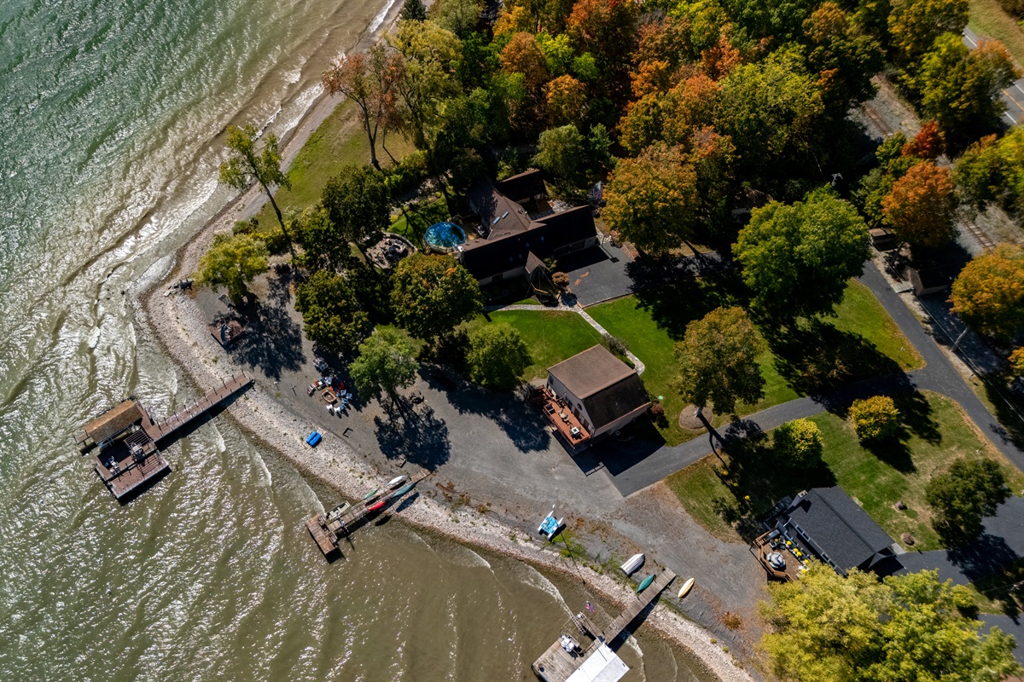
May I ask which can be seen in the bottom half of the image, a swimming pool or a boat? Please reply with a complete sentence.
The one visible in the bottom half of the image is a boat.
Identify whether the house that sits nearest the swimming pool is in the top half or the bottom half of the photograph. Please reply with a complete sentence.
The top half of the photo is where the house that sits nearest the swimming pool is.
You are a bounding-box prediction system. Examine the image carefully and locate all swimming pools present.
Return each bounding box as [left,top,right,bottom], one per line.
[419,219,466,256]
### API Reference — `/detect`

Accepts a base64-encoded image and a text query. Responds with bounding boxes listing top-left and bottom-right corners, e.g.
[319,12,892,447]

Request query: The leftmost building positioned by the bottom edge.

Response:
[566,643,629,682]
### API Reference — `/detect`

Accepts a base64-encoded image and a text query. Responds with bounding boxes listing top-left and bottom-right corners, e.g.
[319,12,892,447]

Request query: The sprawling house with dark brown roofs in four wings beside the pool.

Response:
[456,170,598,288]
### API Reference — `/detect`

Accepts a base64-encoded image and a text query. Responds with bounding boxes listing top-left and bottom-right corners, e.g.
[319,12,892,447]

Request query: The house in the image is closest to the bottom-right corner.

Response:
[761,486,897,577]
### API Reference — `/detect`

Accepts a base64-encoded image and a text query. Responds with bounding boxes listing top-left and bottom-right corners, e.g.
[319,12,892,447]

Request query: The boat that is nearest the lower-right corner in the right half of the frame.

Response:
[679,578,694,598]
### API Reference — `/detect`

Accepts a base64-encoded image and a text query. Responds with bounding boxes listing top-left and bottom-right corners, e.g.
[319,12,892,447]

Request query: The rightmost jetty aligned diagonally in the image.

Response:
[531,569,676,682]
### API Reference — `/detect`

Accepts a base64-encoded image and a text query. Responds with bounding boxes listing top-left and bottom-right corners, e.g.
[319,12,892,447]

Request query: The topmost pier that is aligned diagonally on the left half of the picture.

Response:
[70,367,256,502]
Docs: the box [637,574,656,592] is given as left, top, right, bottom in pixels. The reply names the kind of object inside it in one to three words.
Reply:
boat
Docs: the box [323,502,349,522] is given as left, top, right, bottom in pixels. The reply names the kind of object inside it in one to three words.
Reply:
boat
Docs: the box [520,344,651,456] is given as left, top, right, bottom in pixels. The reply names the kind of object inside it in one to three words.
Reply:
house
